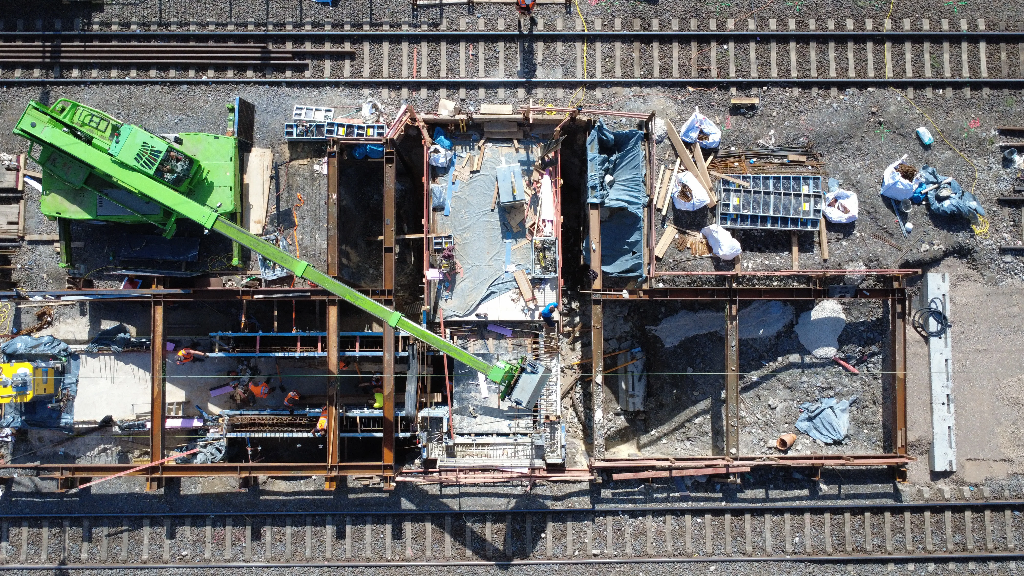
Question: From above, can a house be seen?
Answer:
No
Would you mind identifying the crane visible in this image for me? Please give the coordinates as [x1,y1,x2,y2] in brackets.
[11,97,552,410]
